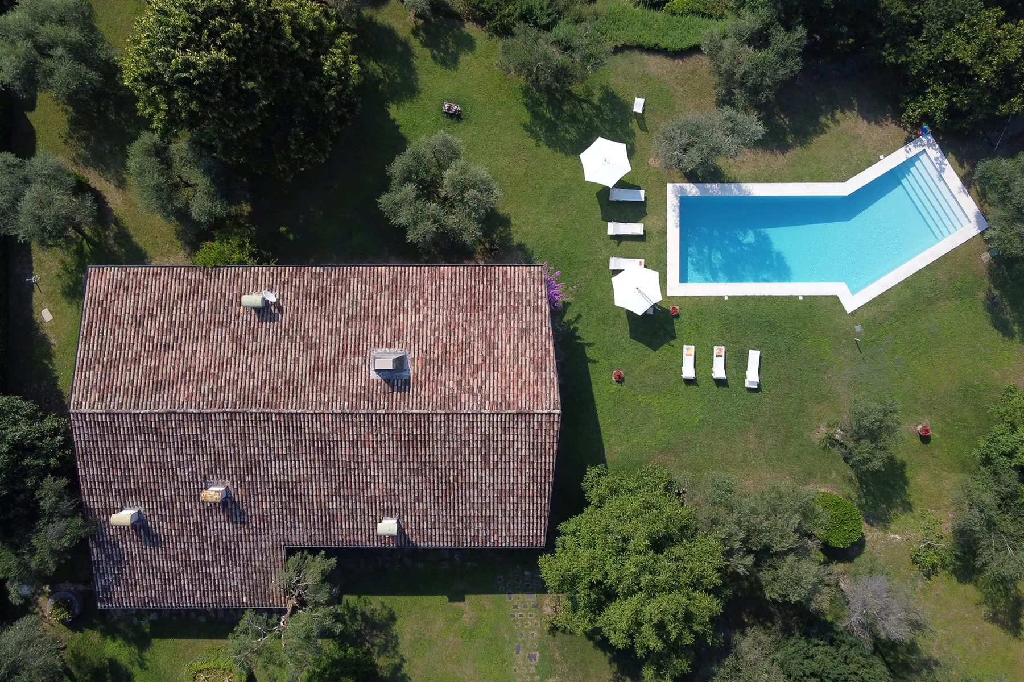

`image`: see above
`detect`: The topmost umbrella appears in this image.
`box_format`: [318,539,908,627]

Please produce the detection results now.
[579,136,632,187]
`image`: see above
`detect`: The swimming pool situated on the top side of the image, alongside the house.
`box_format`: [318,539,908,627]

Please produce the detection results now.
[667,134,989,314]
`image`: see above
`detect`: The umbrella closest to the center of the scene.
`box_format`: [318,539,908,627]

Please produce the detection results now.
[611,264,662,318]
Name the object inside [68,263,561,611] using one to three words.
house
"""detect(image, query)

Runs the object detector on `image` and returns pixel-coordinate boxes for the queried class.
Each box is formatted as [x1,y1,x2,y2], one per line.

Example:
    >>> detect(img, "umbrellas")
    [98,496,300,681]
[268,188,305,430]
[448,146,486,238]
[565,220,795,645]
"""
[579,136,632,187]
[611,264,662,318]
